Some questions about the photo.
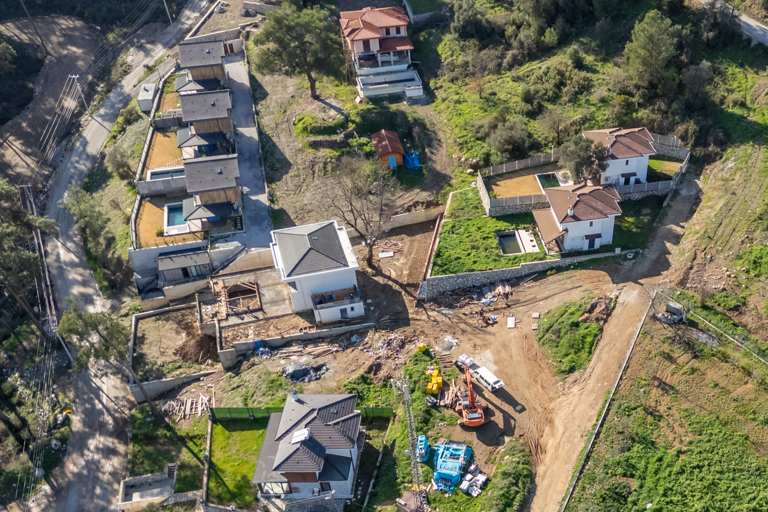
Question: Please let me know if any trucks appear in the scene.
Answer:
Yes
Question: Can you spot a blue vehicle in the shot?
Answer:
No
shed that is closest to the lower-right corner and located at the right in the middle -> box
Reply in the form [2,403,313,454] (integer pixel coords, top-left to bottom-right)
[663,297,689,315]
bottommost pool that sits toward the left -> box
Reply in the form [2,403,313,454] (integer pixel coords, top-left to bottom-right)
[164,201,190,240]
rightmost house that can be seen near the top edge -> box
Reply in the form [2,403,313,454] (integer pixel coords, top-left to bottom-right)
[340,7,415,72]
